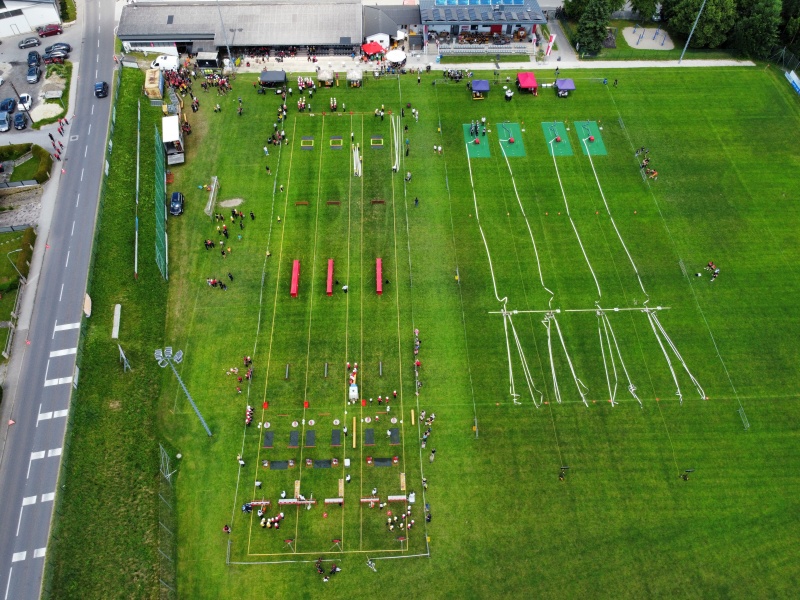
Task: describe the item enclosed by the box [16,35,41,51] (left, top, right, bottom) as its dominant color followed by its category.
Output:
gray car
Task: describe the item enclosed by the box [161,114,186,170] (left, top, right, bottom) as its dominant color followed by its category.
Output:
white trailer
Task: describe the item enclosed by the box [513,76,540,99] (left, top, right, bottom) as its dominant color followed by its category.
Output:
pink gazebo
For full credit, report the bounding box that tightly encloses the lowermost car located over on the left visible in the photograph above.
[166,191,184,216]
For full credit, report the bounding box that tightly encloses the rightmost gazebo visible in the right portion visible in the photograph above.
[552,80,578,99]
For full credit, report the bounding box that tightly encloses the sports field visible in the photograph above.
[165,66,800,600]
